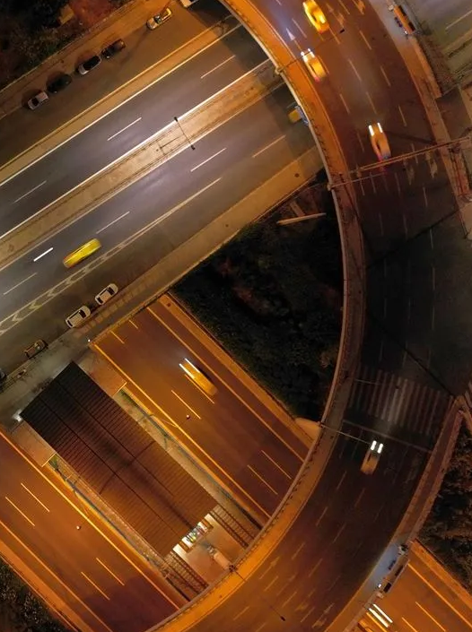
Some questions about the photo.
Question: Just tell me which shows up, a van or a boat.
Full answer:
This aerial view contains a van.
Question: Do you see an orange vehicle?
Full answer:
Yes, I can see an orange vehicle in this picture.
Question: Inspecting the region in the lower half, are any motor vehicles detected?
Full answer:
Yes, you'll find a motor vehicle in the lower half.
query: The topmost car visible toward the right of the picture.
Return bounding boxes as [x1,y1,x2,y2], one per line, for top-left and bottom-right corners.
[303,0,326,29]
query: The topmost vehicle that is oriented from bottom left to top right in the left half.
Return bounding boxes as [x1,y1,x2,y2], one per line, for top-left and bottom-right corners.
[145,6,171,28]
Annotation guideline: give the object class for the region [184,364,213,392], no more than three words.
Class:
van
